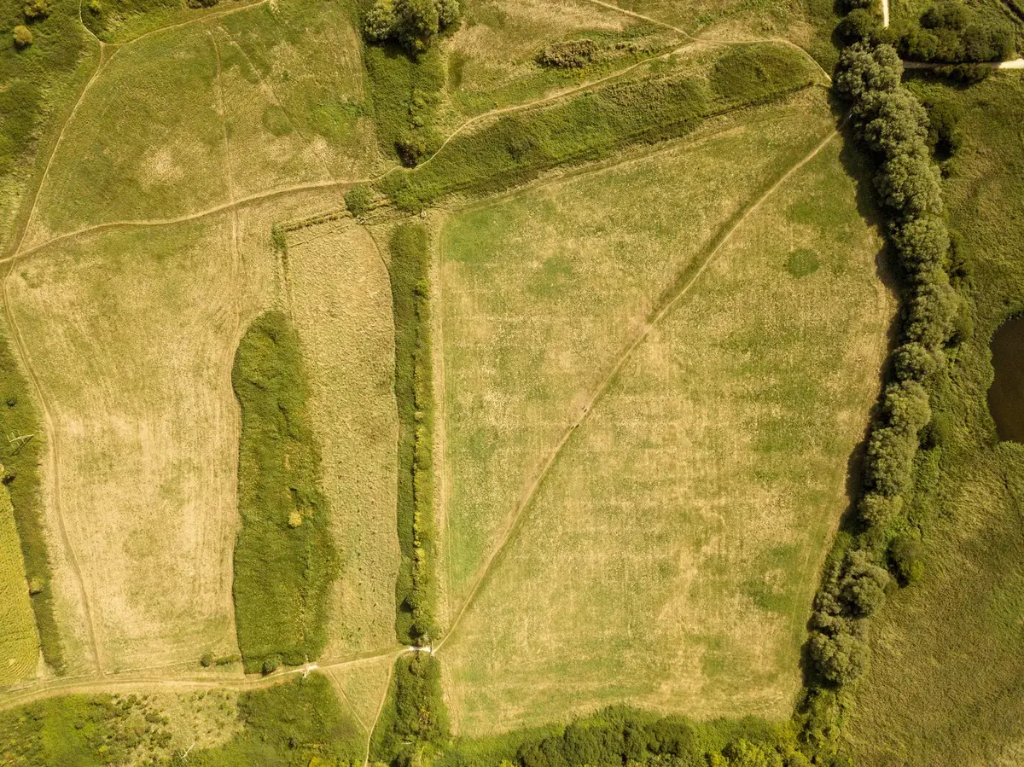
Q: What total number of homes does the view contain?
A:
none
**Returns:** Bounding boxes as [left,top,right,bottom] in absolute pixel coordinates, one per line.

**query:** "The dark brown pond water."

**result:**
[988,310,1024,441]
